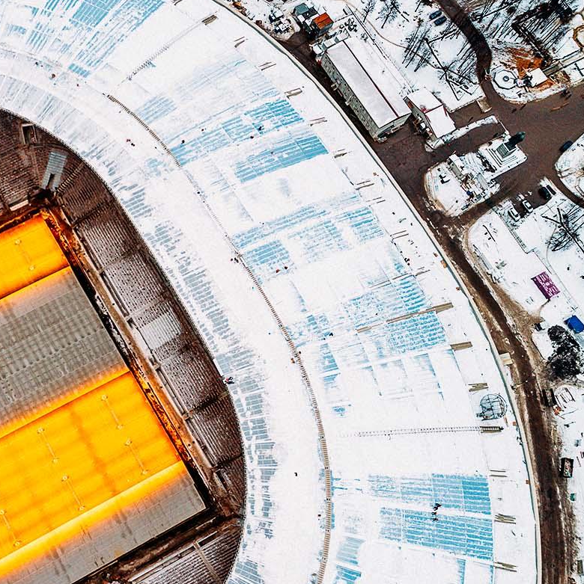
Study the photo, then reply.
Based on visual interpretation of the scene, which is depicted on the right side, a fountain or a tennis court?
fountain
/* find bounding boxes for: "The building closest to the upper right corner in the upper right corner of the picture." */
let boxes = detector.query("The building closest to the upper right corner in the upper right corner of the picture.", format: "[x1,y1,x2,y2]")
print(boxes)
[522,68,547,92]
